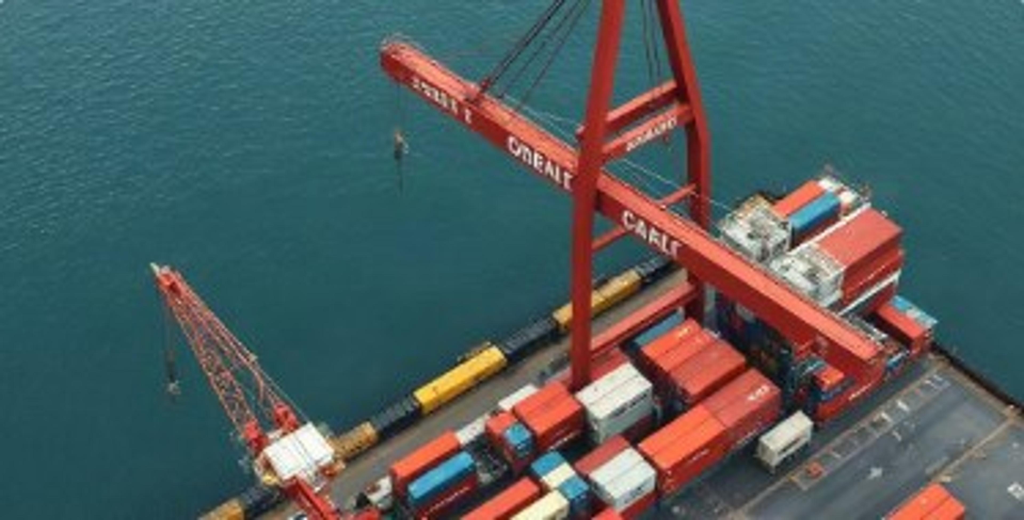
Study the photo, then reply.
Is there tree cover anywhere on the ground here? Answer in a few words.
No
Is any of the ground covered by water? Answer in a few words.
Yes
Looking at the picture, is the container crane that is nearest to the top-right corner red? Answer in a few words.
Yes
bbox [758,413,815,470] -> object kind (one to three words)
trailer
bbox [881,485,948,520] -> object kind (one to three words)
shipping container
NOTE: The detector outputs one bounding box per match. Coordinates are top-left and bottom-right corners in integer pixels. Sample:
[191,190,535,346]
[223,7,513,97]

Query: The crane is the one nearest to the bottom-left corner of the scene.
[141,260,361,520]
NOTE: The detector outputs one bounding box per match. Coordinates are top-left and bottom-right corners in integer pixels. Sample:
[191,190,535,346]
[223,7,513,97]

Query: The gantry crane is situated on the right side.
[381,0,885,425]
